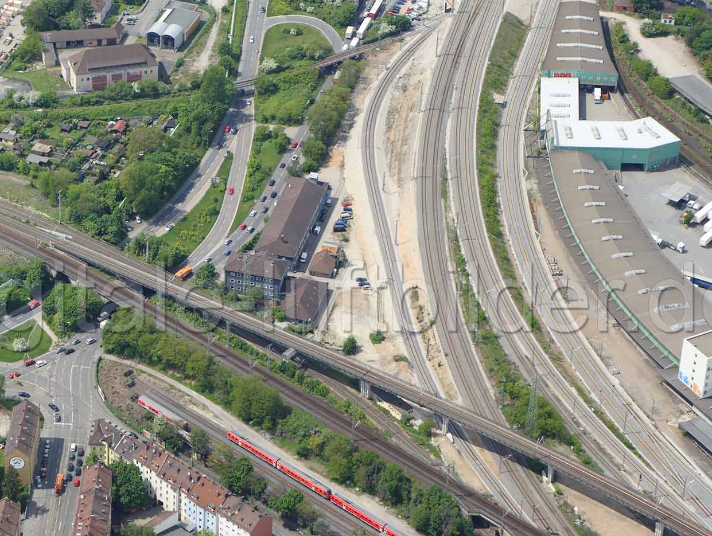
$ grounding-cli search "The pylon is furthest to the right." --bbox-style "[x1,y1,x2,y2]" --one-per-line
[521,361,555,434]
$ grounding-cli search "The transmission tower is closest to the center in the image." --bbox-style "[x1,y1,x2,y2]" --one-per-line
[374,279,390,336]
